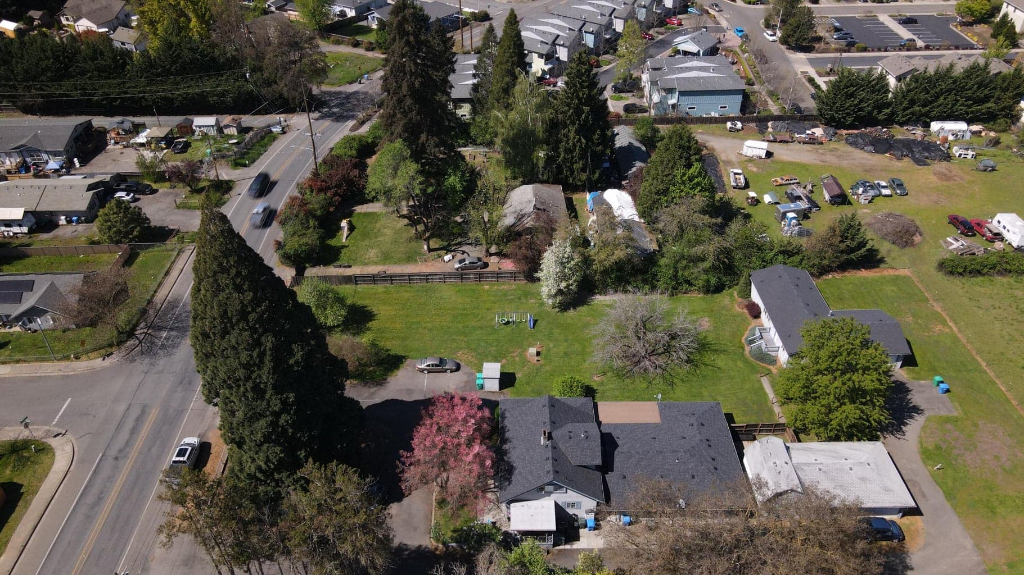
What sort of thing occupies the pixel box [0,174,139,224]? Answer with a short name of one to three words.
house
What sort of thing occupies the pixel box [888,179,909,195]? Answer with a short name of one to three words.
car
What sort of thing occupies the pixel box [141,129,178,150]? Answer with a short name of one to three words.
gazebo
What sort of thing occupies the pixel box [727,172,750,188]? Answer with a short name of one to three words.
vehicle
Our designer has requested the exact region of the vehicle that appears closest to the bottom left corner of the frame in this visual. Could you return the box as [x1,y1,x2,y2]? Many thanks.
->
[163,436,200,481]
